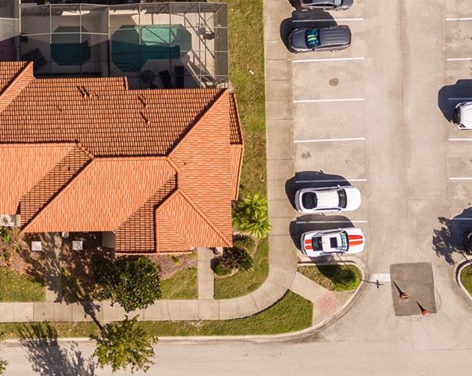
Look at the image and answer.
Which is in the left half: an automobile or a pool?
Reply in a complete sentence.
The feature located in the left half is a pool.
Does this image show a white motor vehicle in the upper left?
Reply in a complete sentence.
No, looking in the upper left, there is no white motor vehicle.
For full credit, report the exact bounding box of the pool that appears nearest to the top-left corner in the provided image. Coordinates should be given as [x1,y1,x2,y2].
[51,26,91,65]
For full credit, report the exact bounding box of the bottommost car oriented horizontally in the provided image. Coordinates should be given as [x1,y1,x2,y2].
[299,225,363,256]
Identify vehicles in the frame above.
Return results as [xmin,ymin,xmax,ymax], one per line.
[459,228,472,253]
[299,225,363,256]
[291,0,353,12]
[286,22,353,54]
[292,183,359,214]
[454,102,472,130]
